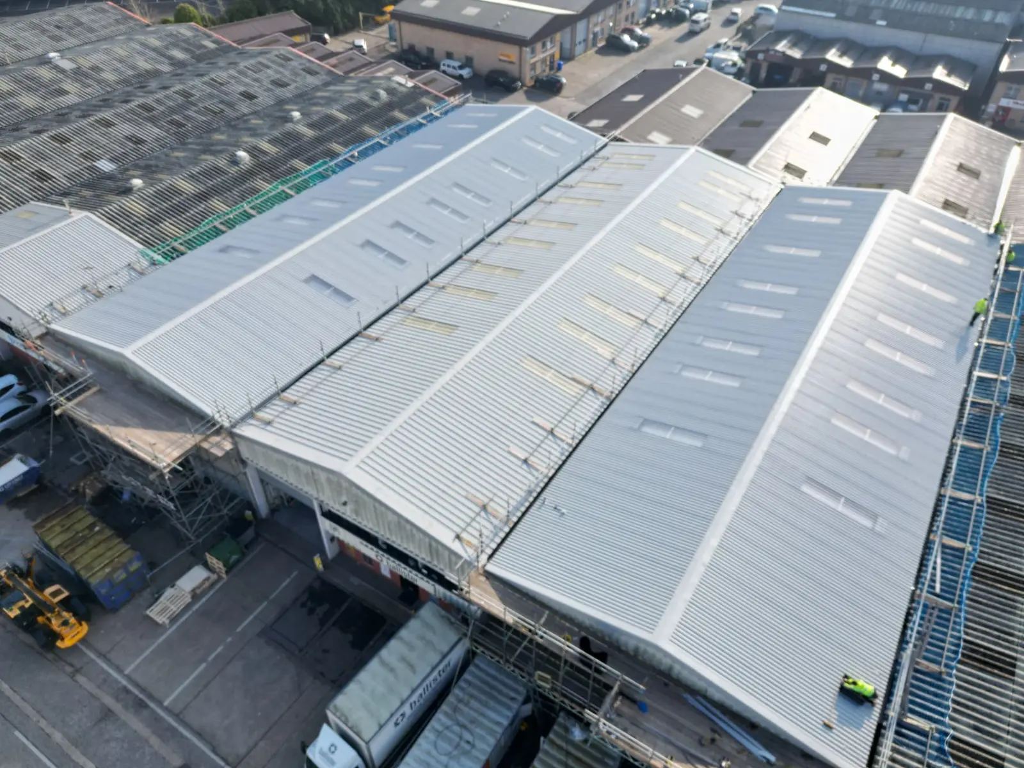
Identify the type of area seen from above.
industrial area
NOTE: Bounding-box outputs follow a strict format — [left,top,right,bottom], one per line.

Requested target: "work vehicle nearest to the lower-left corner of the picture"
[0,560,100,659]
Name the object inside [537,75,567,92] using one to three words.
car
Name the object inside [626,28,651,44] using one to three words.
car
